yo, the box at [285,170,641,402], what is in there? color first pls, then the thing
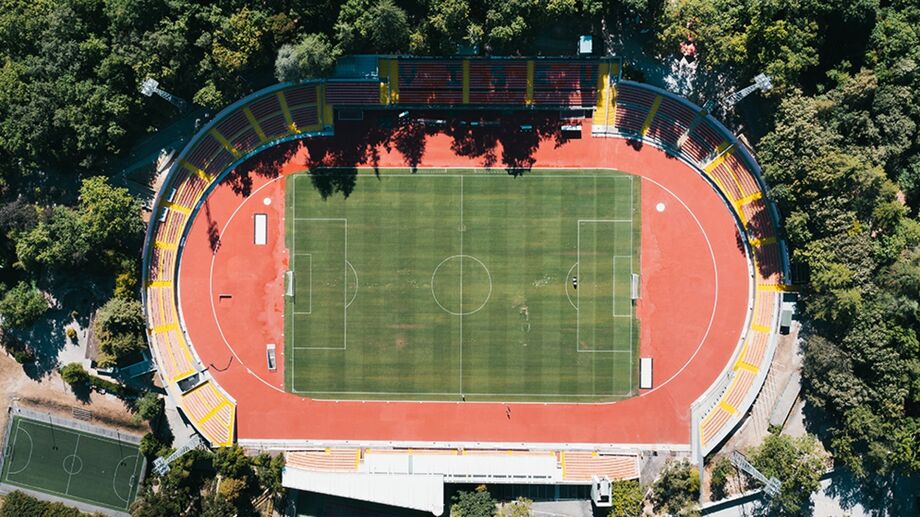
green soccer field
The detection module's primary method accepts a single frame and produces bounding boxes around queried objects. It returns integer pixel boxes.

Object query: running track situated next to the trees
[179,111,749,444]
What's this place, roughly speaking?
sports ground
